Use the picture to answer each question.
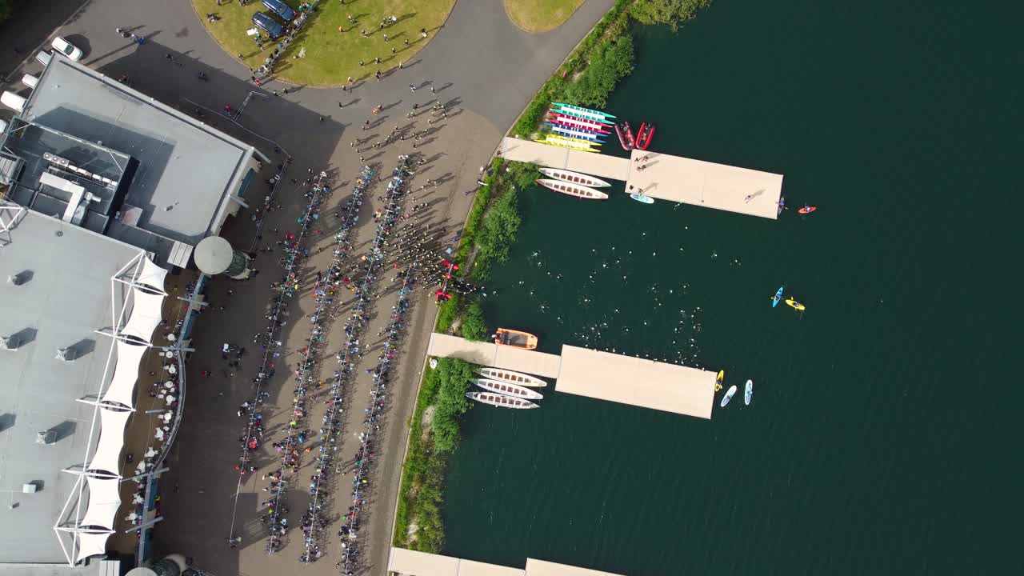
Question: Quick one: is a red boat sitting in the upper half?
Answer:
Yes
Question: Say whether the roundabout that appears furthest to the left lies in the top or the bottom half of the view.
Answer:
top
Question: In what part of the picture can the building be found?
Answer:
left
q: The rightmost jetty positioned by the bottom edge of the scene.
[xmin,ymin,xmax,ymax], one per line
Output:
[387,547,632,576]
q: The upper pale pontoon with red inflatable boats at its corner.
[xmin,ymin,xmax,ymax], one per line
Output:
[498,135,784,219]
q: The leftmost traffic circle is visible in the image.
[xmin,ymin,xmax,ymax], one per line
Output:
[190,0,457,88]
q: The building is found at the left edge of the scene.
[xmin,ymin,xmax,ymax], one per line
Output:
[0,47,279,576]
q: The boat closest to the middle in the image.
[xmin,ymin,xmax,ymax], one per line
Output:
[492,329,539,348]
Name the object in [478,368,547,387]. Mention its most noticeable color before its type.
white boat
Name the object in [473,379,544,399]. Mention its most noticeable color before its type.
white boat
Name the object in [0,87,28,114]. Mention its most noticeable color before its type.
white car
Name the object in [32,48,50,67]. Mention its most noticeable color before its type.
white car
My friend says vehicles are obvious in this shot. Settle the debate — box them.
[48,34,86,62]
[248,7,286,40]
[259,0,297,22]
[32,48,50,67]
[18,71,39,90]
[0,87,28,114]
